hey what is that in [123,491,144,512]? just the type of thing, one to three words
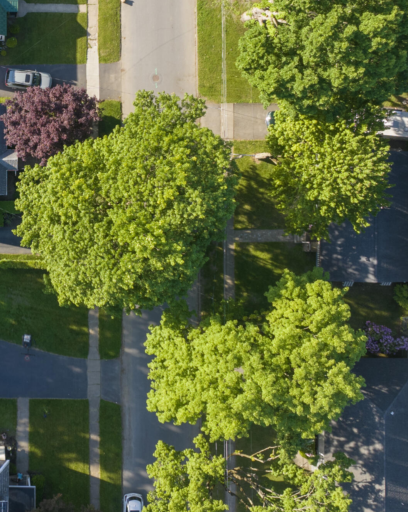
car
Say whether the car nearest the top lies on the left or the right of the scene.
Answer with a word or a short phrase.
left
